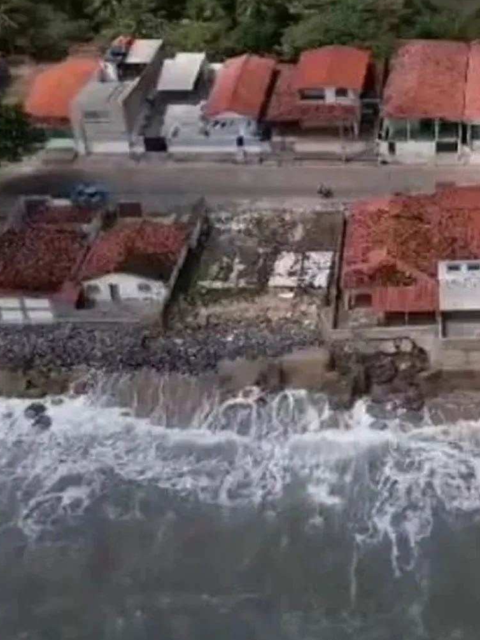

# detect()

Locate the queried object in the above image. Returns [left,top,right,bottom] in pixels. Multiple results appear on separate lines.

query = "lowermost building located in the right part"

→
[325,181,480,341]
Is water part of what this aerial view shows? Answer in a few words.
Yes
